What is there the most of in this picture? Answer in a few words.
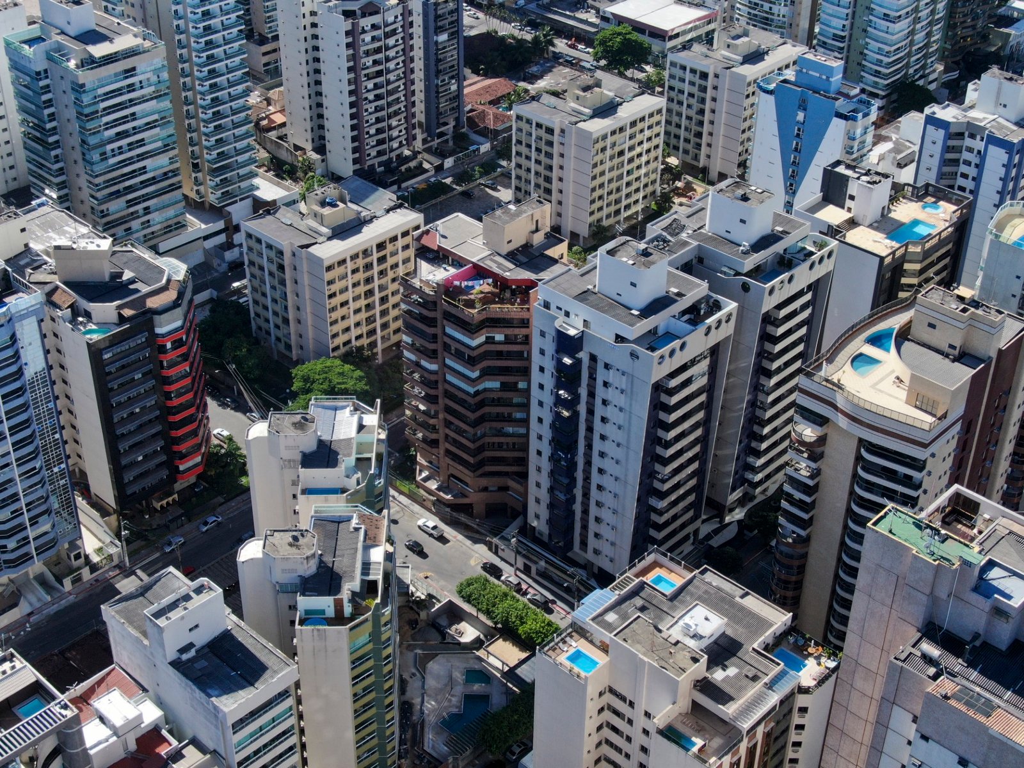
buildings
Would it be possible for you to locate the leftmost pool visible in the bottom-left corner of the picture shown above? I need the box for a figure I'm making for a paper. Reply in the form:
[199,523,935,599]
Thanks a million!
[11,696,50,729]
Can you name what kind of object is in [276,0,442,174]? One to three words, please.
building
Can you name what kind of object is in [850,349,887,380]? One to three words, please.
swimming pool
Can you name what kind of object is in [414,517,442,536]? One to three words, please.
vehicle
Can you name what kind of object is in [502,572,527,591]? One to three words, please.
car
